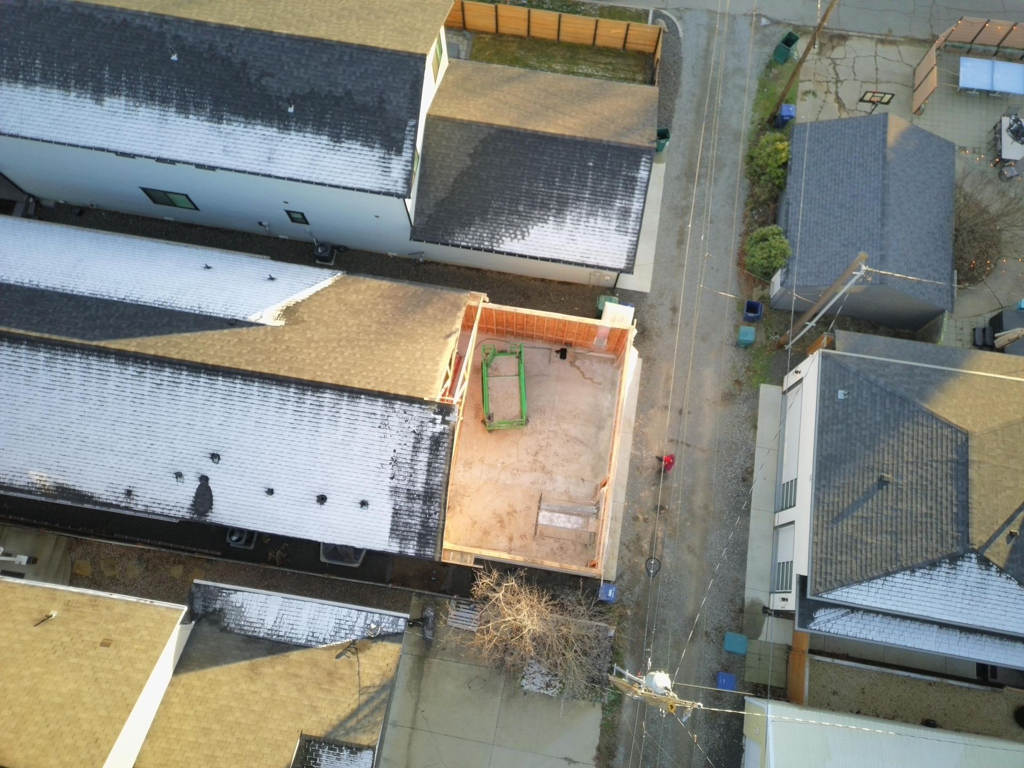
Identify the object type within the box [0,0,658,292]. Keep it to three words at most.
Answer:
house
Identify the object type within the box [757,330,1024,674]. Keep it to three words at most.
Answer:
house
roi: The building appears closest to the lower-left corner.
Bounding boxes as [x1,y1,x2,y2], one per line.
[0,566,421,768]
